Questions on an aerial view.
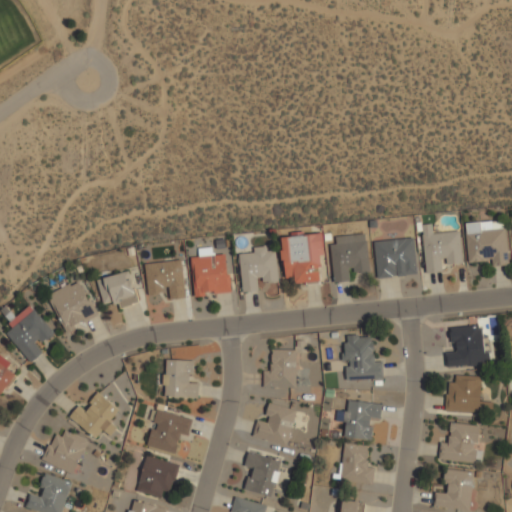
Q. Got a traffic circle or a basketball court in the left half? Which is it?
traffic circle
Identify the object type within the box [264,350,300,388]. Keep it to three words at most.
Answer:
house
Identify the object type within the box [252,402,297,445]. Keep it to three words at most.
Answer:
house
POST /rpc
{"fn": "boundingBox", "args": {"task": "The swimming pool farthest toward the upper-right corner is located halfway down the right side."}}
[440,216,460,230]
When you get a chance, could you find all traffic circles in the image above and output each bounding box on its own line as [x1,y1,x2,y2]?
[58,50,118,110]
